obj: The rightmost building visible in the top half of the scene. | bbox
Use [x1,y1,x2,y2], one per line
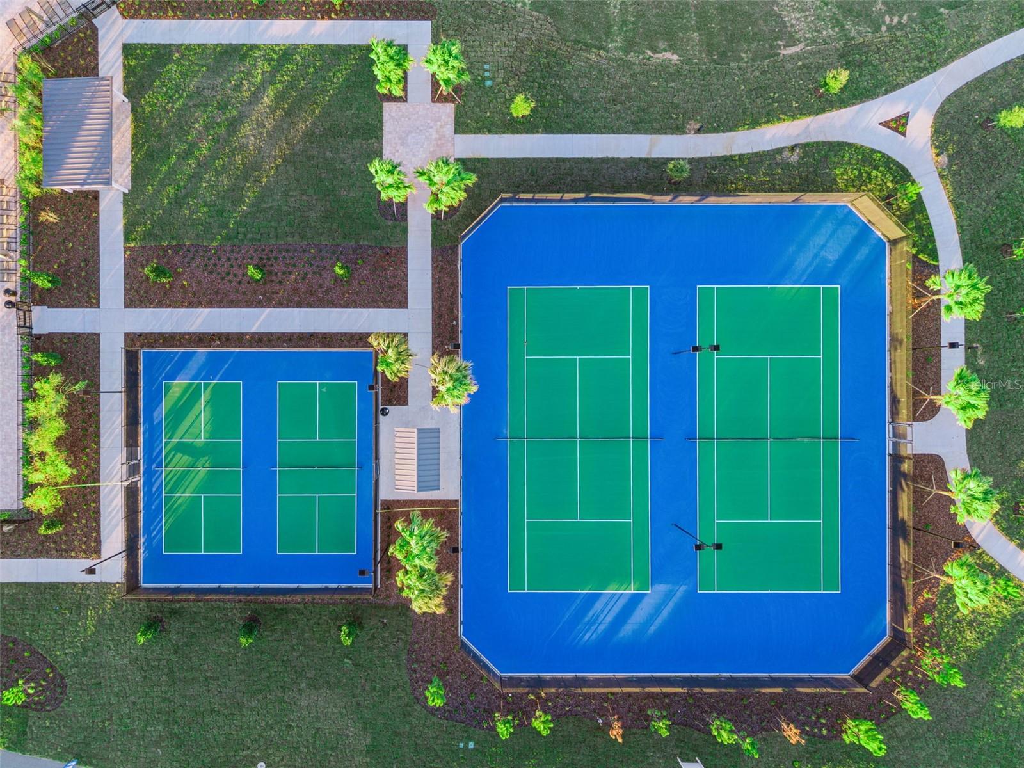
[41,76,129,193]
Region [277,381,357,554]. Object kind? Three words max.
sports court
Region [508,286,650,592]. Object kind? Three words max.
tennis court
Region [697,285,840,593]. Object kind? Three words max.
tennis court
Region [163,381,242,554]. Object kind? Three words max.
sports court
